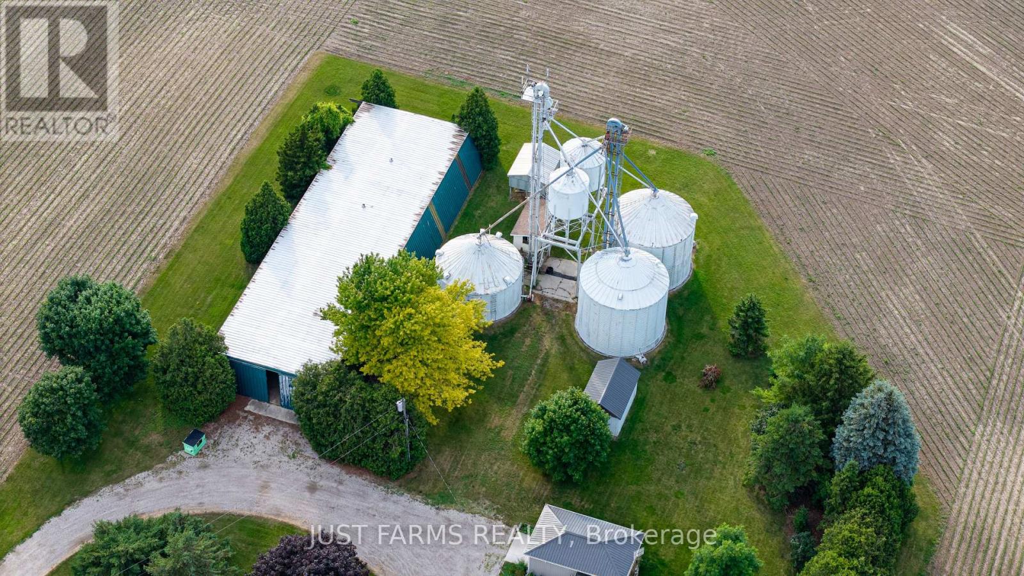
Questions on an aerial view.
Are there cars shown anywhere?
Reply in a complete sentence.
No, no car is visible in the scene.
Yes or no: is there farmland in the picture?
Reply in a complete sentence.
Yes, there's farmland in this view.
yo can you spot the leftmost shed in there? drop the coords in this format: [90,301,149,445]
[178,425,207,456]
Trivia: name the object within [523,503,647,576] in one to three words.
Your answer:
building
